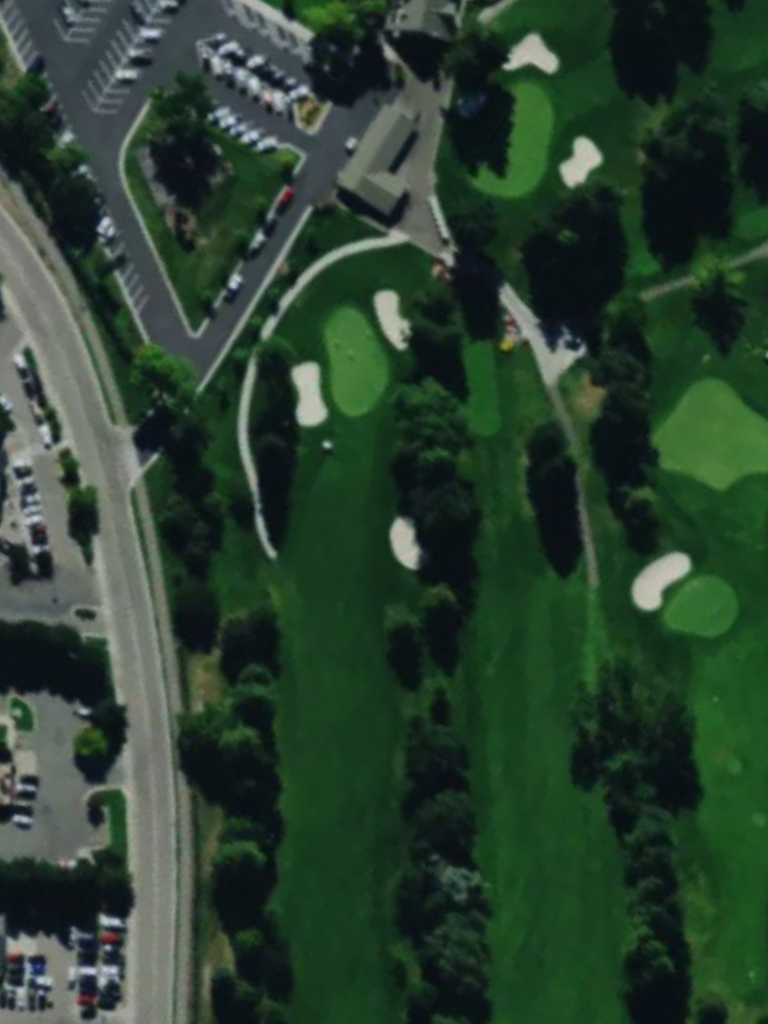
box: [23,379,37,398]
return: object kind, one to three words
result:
car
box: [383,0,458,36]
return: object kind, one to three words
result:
building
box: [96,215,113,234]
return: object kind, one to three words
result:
car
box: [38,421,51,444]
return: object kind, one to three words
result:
vehicle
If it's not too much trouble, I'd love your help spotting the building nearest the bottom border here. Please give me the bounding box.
[335,103,415,215]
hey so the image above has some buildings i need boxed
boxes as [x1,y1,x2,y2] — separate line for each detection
[335,103,415,215]
[383,0,458,36]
